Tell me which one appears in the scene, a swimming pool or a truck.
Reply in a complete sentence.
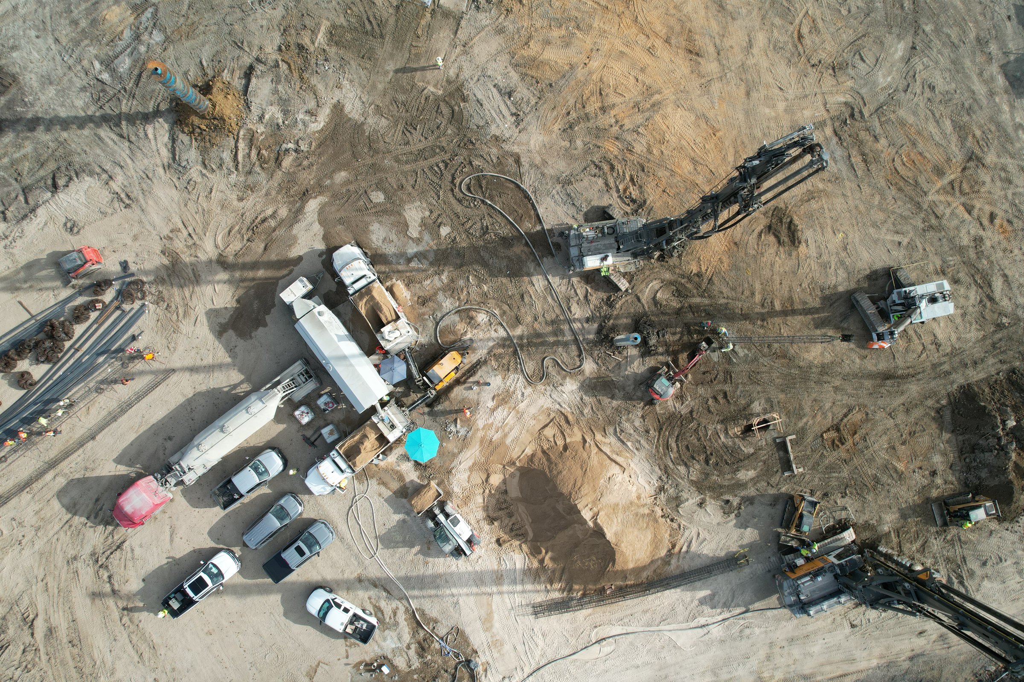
Visible in the photo is a truck.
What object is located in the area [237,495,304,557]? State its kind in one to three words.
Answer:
car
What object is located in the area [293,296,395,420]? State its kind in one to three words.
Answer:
trailer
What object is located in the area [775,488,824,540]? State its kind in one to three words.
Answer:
work vehicle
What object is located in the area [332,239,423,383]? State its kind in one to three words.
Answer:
truck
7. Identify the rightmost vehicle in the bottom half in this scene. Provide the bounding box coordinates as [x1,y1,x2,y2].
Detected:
[934,489,1003,526]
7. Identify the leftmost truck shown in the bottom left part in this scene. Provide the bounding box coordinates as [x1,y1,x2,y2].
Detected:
[110,464,190,533]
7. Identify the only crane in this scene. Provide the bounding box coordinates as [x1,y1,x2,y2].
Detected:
[847,261,953,350]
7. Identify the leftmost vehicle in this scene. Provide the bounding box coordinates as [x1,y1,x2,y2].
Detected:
[56,240,111,289]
